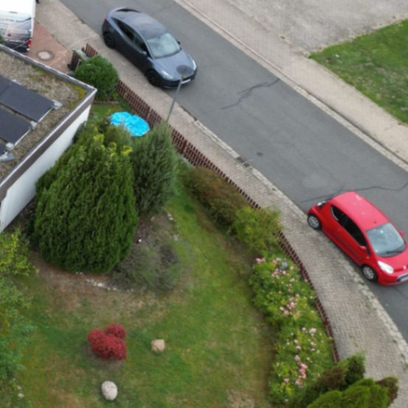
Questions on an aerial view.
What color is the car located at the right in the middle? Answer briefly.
red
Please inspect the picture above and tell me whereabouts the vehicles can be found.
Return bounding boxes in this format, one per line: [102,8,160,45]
[308,194,408,290]
[0,0,37,54]
[101,10,202,93]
